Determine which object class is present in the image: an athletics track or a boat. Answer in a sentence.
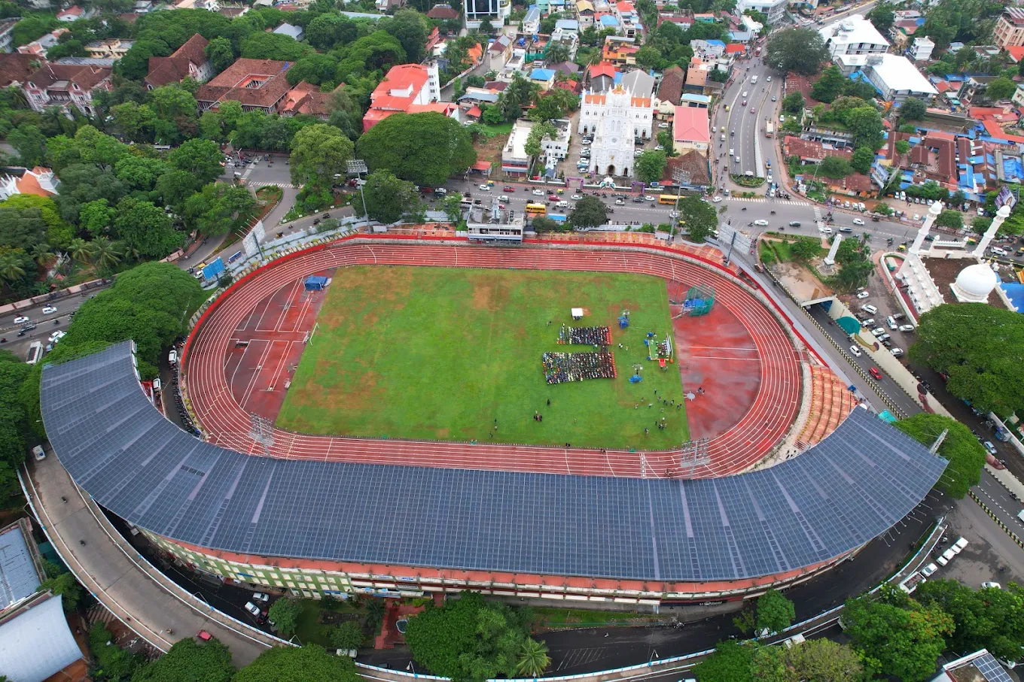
The one in the frame is an athletics track.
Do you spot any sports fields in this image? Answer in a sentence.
Yes, the frame does contain a sports field.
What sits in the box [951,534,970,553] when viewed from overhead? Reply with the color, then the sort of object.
white vehicle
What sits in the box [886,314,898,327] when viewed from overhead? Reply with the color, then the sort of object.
white vehicle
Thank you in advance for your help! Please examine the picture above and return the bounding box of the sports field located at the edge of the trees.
[272,265,688,451]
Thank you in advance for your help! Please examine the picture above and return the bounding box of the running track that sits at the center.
[183,242,804,477]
